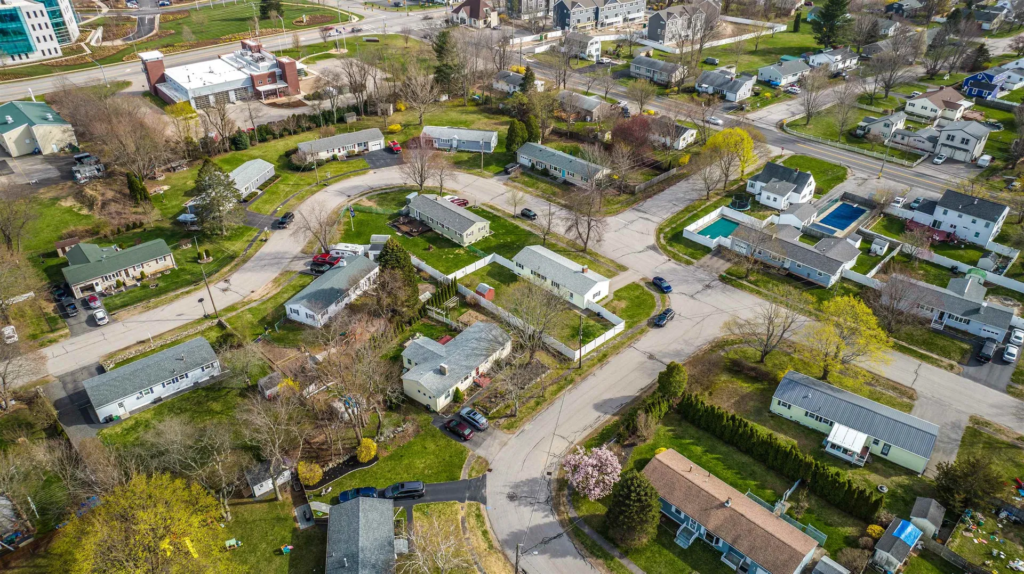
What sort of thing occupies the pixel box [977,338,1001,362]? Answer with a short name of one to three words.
truck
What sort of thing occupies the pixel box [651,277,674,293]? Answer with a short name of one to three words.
car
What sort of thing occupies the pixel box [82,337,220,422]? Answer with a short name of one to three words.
house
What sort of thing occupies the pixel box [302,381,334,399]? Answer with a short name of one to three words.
boat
